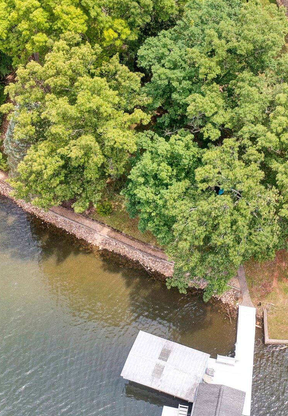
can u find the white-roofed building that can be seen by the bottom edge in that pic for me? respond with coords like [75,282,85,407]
[120,331,210,409]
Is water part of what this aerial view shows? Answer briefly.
Yes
